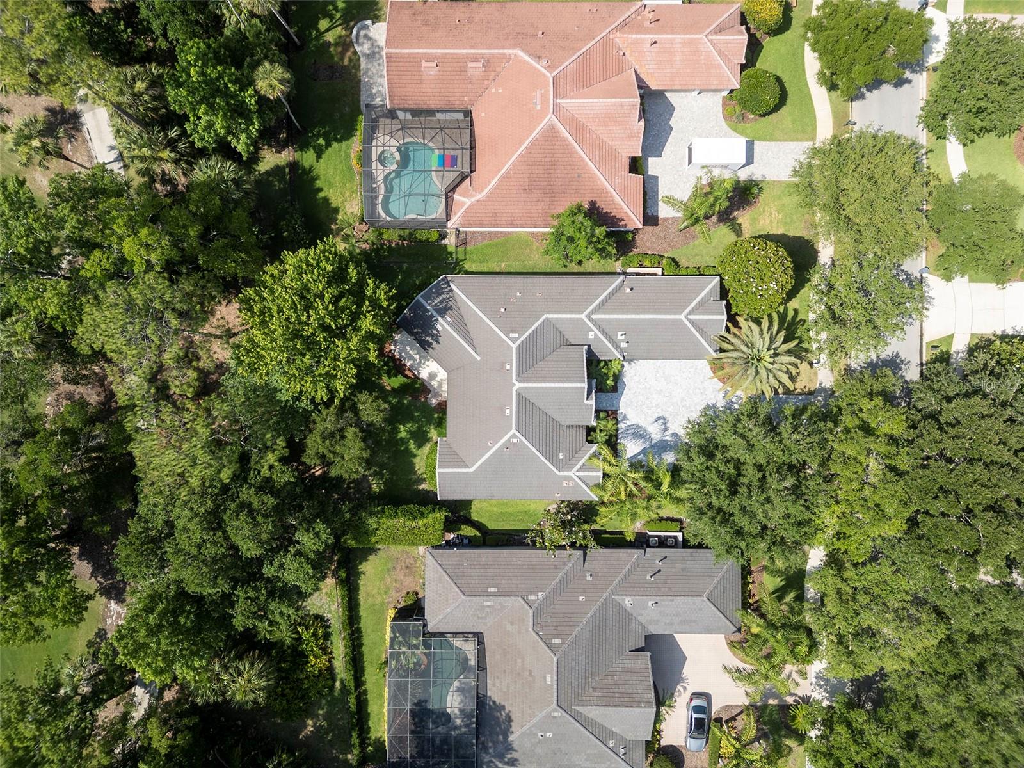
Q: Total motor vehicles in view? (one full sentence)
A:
The count of motor vehicles comes to 2.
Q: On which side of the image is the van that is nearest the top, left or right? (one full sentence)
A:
The van that is nearest the top appears in the right half of the scene.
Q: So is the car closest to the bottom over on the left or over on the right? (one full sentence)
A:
The car closest to the bottom sits on the right side.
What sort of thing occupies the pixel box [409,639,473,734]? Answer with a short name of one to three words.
swimming pool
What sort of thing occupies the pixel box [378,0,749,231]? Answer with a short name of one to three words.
house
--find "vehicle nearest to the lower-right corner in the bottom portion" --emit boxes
[685,695,714,755]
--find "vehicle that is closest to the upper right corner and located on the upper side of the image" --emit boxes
[683,139,745,172]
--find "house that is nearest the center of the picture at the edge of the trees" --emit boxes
[395,274,727,502]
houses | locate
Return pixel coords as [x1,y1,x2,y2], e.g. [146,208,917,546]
[395,274,727,502]
[425,546,741,768]
[378,0,749,231]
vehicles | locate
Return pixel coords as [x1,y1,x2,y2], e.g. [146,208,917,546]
[685,695,714,755]
[683,139,745,172]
